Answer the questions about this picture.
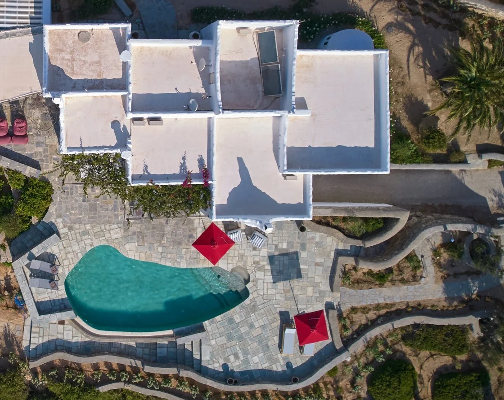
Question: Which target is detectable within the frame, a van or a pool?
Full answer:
I can see a pool in this picture.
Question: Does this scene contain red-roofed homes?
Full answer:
No, there is no red-roofed home in the image.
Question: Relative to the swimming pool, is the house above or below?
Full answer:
Relative to the swimming pool, the house lies above it.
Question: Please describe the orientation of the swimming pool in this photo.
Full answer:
In this picture, the swimming pool lies from side to side.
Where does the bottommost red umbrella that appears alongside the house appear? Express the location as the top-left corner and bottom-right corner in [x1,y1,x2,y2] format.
[192,222,235,265]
